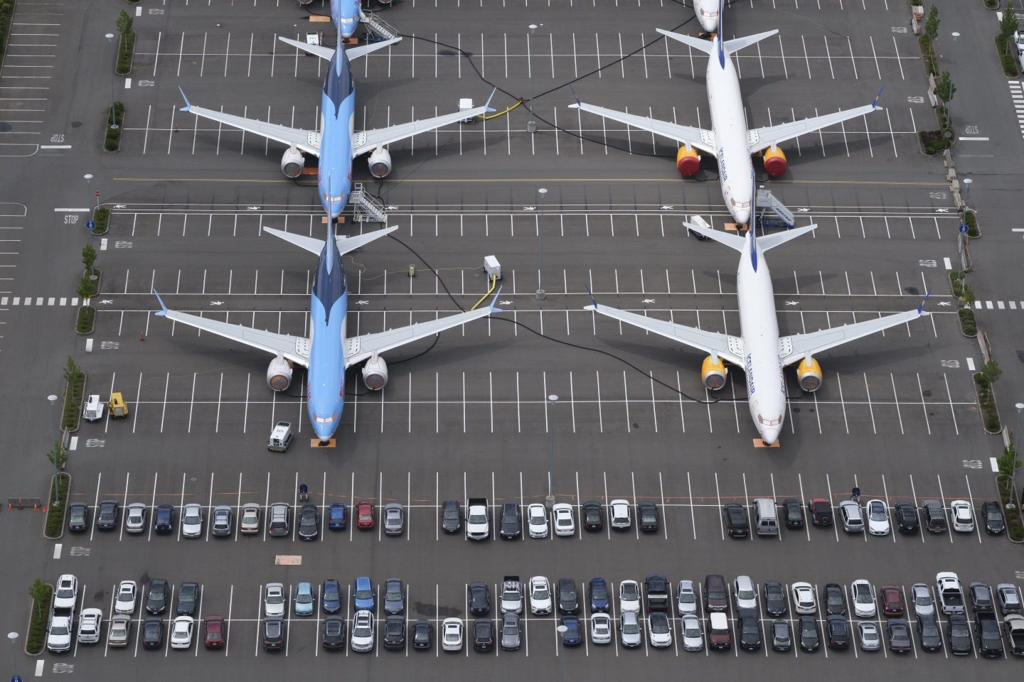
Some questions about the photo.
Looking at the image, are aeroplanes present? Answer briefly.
Yes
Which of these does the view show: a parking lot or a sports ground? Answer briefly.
parking lot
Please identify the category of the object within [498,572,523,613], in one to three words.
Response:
truck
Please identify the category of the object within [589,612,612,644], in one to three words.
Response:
car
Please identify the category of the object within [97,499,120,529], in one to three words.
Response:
car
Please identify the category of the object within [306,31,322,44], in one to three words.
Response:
vehicle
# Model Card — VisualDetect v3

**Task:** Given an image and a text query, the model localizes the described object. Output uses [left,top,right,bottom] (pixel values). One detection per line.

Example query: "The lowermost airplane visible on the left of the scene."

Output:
[154,166,502,444]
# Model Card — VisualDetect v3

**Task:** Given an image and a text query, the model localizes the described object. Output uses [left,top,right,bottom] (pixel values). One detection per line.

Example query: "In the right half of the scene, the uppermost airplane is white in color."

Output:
[691,0,719,37]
